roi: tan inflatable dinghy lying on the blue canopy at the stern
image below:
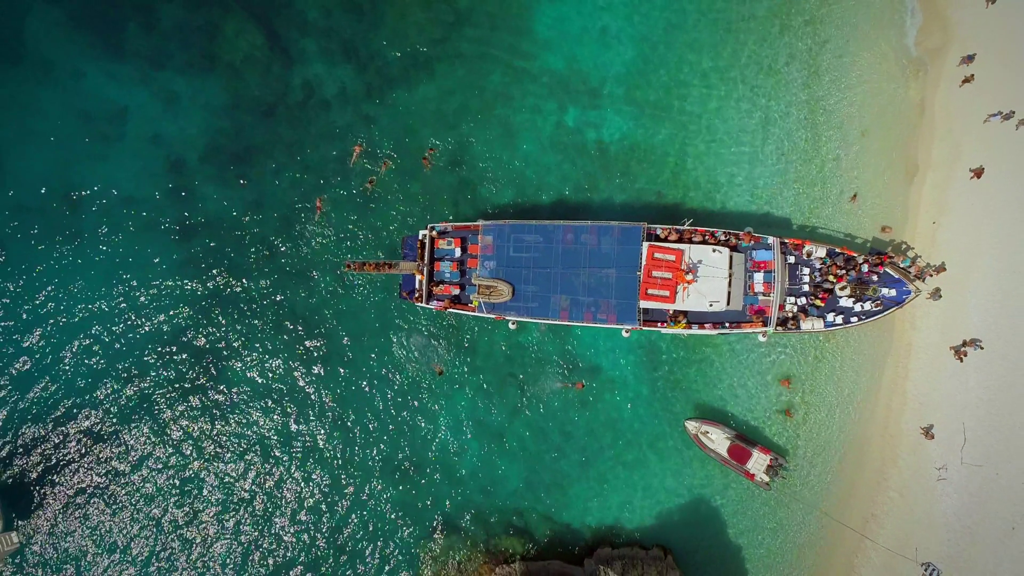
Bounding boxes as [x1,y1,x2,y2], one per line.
[471,278,513,302]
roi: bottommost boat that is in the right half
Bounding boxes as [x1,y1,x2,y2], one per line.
[685,421,784,490]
